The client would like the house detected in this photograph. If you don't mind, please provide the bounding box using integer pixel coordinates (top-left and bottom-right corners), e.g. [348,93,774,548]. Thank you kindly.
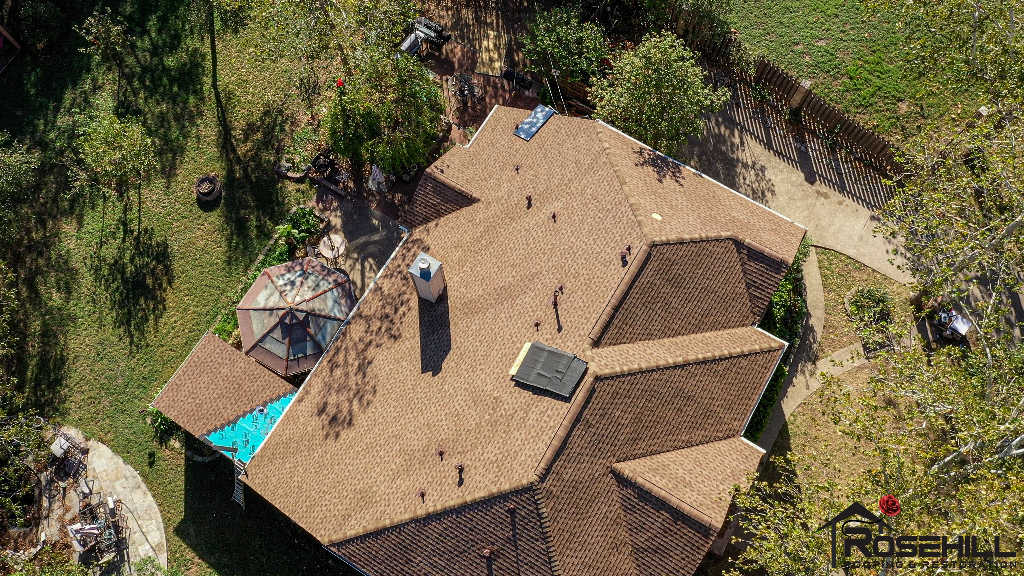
[232,105,810,576]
